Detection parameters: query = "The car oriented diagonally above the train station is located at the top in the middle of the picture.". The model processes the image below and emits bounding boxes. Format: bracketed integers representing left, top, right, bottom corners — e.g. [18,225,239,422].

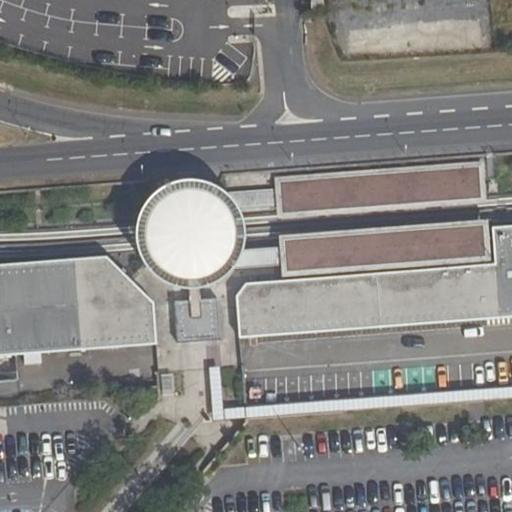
[216,53,238,73]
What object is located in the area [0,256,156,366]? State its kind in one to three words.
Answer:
building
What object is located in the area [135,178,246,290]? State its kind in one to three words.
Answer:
train station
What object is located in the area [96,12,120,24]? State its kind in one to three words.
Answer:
vehicle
